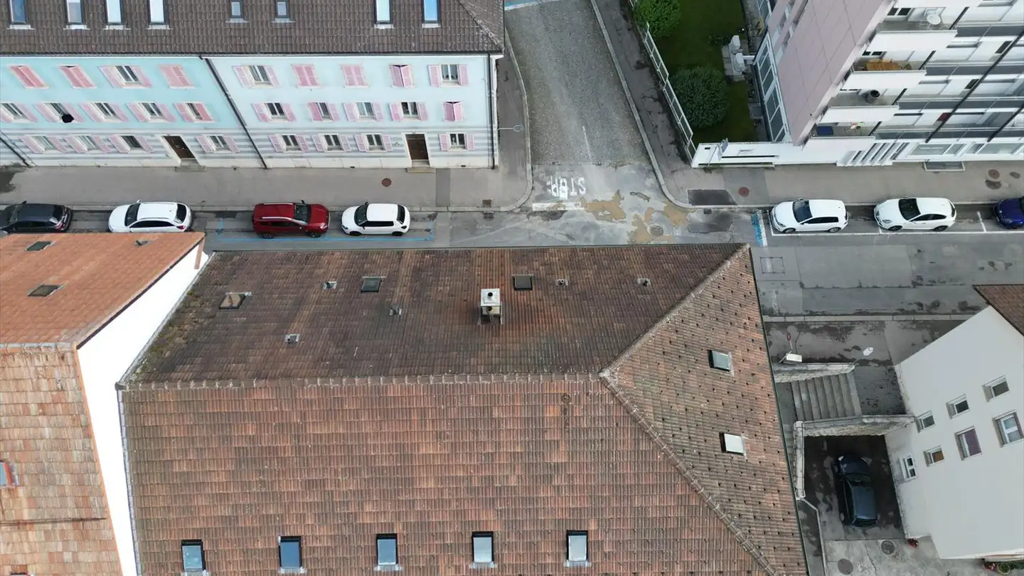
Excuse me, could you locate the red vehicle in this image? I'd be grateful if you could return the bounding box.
[249,199,330,238]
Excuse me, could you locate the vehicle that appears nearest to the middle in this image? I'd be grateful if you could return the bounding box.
[341,199,410,236]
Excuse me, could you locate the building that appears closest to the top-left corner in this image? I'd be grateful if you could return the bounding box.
[0,0,263,174]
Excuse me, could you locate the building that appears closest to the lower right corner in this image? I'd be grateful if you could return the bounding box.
[883,297,1024,560]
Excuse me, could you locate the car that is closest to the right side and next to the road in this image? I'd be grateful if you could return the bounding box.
[994,199,1024,232]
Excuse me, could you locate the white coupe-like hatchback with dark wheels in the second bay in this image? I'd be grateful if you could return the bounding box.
[873,196,960,234]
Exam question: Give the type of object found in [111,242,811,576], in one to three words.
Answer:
building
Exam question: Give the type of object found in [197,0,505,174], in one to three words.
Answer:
house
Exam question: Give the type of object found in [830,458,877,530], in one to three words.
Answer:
car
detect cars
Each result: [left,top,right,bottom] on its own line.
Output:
[108,201,193,235]
[249,199,330,238]
[830,458,877,530]
[341,199,410,236]
[0,202,73,235]
[873,196,960,234]
[994,199,1024,232]
[769,195,847,233]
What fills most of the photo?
buildings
